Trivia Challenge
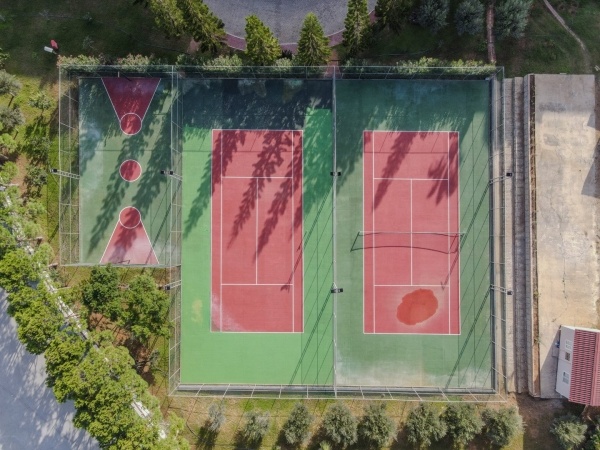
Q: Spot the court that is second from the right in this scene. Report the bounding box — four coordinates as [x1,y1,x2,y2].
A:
[182,79,333,384]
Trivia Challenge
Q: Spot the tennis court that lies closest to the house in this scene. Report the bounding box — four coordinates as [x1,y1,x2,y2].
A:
[333,79,490,384]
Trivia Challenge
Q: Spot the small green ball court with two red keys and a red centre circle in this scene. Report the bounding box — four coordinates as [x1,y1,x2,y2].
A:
[79,79,182,263]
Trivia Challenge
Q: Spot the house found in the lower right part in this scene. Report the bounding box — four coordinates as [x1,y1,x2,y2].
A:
[556,325,600,405]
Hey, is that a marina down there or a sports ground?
sports ground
